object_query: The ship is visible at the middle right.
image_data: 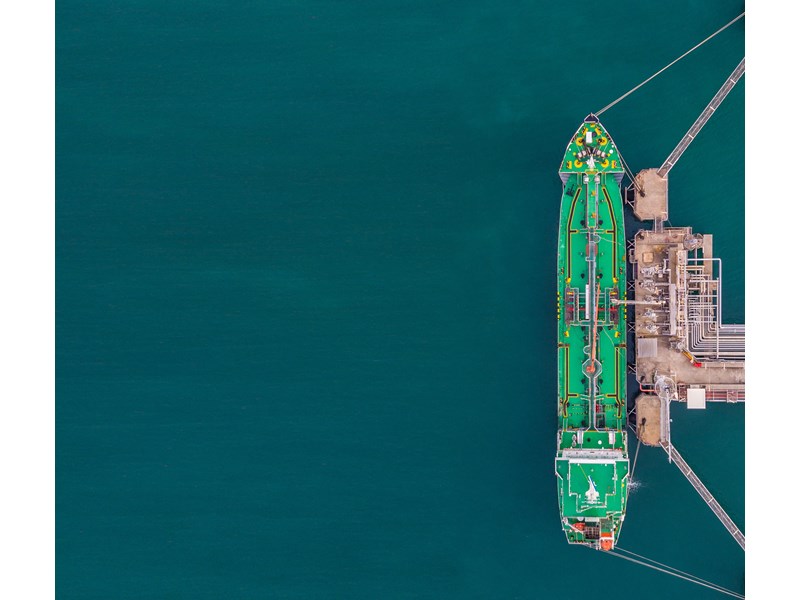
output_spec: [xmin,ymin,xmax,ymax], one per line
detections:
[555,113,630,550]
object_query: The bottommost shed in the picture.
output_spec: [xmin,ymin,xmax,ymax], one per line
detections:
[687,389,705,409]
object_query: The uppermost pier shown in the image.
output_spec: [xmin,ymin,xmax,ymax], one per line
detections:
[703,234,716,330]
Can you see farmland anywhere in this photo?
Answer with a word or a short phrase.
No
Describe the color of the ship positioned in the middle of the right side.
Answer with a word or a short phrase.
green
